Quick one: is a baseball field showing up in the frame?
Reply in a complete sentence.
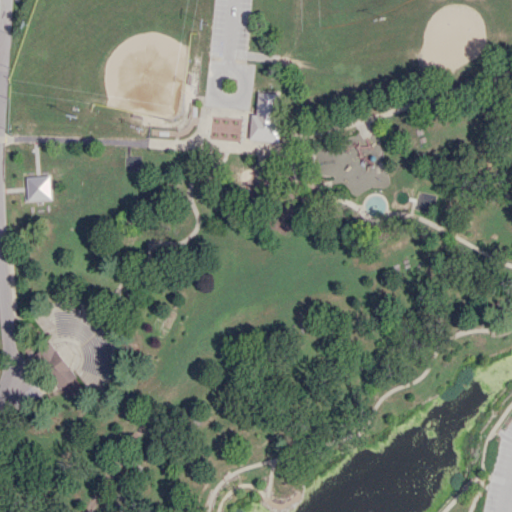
Yes, a baseball field is visible in the scene.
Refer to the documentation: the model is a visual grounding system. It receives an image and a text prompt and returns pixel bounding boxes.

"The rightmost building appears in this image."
[247,92,278,142]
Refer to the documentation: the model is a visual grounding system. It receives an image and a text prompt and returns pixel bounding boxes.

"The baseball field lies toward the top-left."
[10,0,197,122]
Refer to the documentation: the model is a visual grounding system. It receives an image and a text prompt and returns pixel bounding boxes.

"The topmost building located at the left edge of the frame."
[25,174,54,203]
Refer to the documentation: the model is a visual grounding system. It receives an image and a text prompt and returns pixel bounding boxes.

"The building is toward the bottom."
[38,345,76,392]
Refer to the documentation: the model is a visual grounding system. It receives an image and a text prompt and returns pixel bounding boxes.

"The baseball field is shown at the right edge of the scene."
[420,3,487,73]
